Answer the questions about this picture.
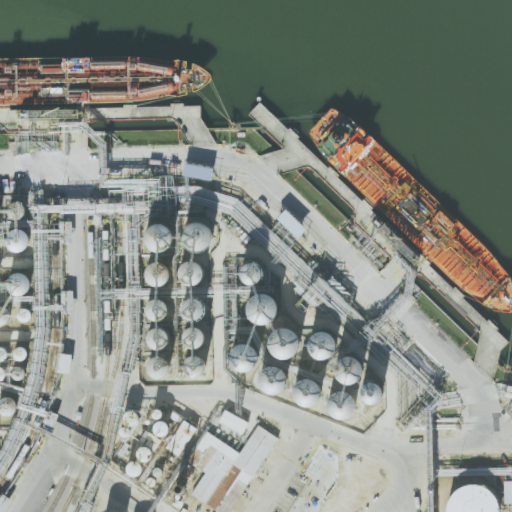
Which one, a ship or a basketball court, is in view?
ship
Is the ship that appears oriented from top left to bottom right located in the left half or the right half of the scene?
right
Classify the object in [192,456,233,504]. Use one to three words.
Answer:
building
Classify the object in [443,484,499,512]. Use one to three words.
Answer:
storage tank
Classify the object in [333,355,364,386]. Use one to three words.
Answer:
storage tank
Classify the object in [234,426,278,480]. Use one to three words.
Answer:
building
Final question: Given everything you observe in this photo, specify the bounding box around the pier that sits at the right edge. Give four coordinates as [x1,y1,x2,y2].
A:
[413,254,508,378]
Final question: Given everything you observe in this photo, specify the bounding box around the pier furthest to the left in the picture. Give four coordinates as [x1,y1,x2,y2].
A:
[0,103,215,145]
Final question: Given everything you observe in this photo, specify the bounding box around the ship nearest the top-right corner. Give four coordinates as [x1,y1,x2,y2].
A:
[310,108,512,312]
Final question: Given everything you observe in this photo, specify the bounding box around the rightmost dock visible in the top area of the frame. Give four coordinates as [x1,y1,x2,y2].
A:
[250,103,383,223]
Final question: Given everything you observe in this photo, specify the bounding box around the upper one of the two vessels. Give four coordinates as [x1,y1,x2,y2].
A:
[0,58,212,104]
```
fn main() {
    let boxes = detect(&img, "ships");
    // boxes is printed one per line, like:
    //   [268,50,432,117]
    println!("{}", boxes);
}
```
[0,58,212,104]
[310,108,512,312]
